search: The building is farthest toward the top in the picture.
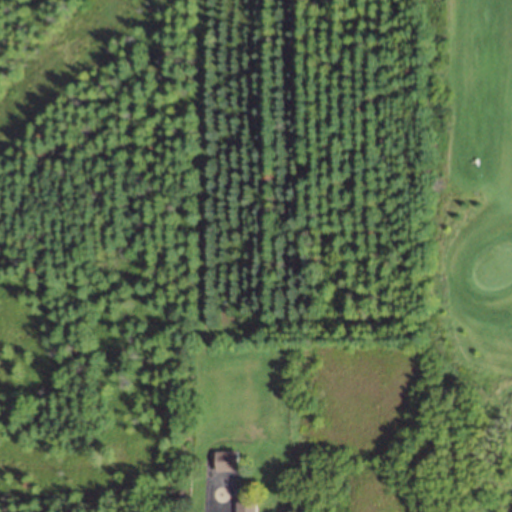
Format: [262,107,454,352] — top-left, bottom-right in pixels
[214,452,238,474]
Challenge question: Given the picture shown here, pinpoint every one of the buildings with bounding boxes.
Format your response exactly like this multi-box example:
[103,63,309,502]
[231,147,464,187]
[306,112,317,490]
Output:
[236,502,259,512]
[214,452,238,474]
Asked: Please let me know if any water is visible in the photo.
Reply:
No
